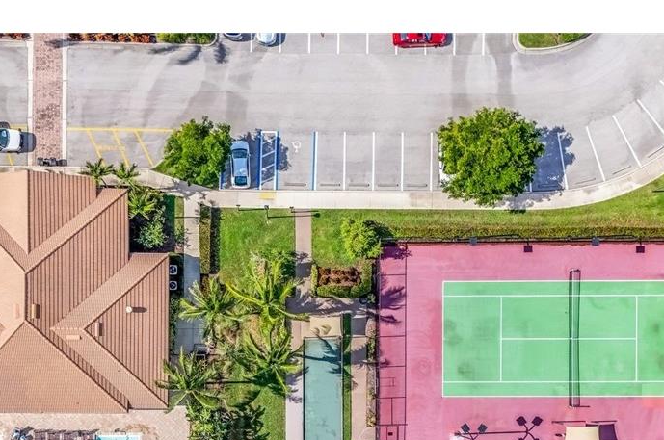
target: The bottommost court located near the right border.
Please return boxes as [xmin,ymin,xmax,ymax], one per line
[442,281,664,397]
